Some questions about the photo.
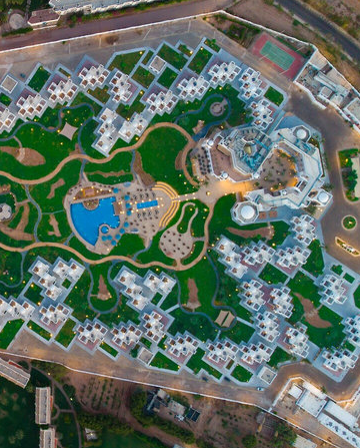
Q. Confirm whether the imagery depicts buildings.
Yes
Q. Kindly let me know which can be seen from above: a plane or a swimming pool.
swimming pool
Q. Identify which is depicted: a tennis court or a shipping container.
tennis court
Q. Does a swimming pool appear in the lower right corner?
No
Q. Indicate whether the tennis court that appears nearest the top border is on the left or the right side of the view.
right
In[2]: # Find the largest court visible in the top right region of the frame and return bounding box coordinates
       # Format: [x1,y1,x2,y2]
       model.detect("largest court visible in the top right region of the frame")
[251,33,304,79]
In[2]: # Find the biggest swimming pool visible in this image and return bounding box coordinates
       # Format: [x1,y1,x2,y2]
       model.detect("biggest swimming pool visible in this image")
[70,195,121,246]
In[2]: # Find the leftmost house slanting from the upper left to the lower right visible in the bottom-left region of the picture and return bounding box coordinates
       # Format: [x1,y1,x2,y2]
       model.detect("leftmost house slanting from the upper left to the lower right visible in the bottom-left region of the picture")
[0,357,30,387]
